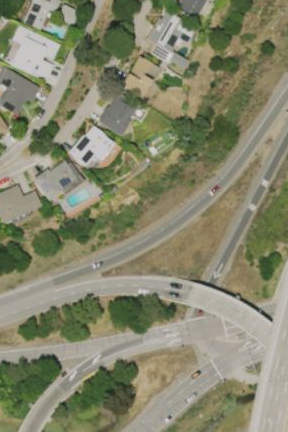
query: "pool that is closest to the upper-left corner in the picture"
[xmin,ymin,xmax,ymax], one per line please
[46,23,66,40]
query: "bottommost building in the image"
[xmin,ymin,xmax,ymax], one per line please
[0,184,42,224]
